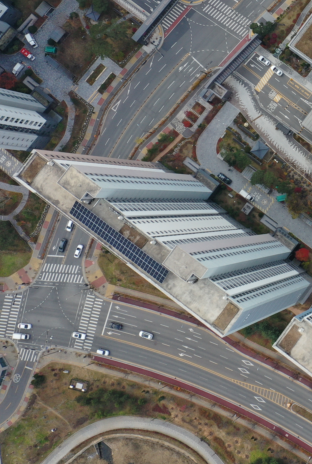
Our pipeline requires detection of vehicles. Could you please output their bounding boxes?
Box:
[74,244,85,258]
[95,349,111,356]
[19,48,35,59]
[237,189,255,201]
[17,323,33,331]
[109,322,124,329]
[139,331,153,340]
[66,222,73,233]
[258,55,271,67]
[217,173,231,184]
[58,238,68,252]
[270,65,283,76]
[10,333,30,340]
[72,333,87,339]
[21,32,37,48]
[12,60,23,77]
